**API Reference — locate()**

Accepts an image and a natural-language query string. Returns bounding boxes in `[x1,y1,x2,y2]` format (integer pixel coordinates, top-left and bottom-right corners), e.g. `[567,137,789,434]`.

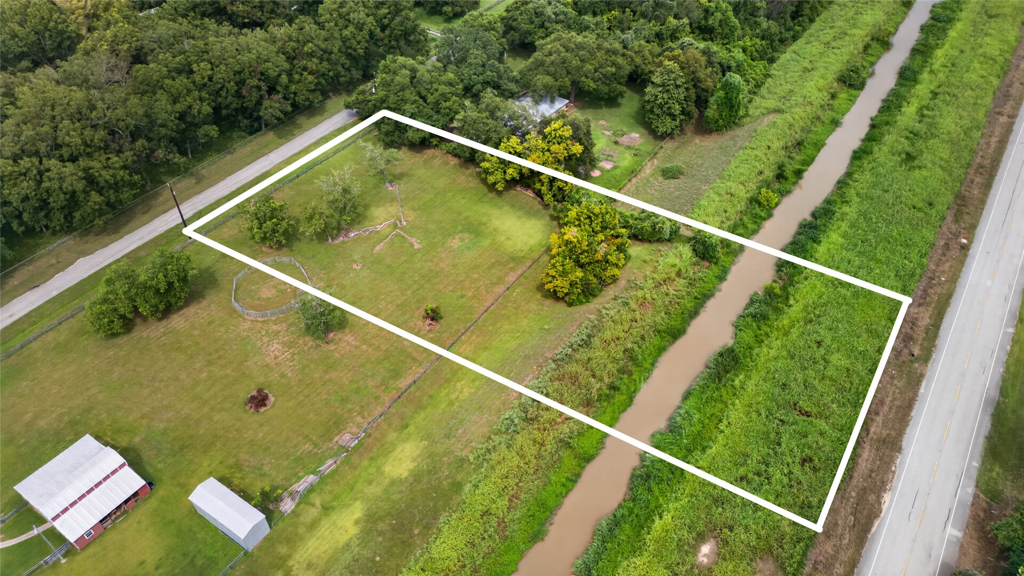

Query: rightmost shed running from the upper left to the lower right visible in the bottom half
[192,480,270,551]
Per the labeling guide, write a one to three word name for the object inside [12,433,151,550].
barn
